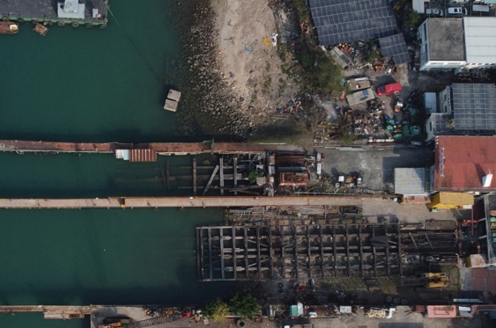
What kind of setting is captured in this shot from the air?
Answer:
port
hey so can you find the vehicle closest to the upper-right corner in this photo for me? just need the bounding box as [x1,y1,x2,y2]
[470,2,491,15]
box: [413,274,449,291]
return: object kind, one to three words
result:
work vehicle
